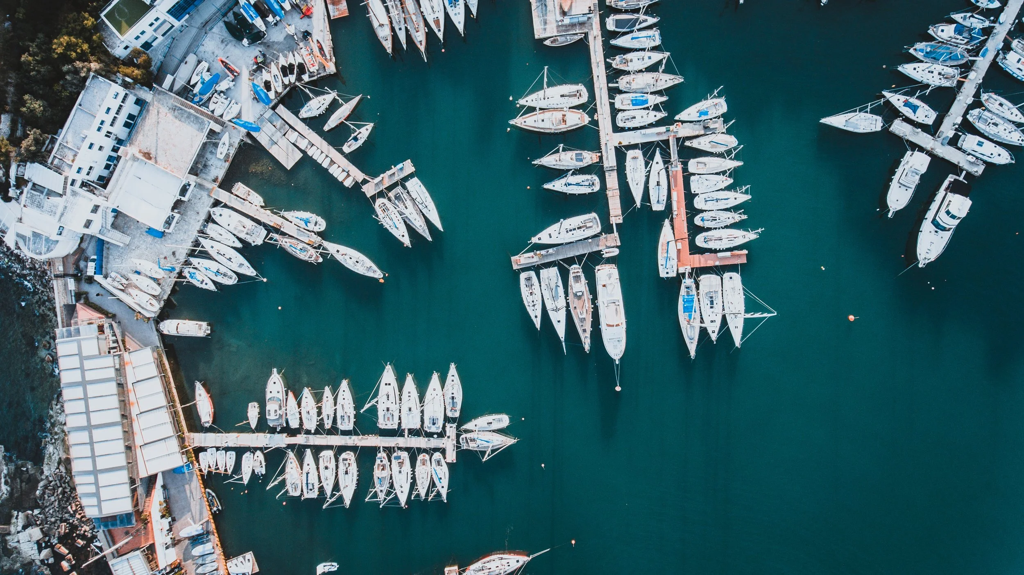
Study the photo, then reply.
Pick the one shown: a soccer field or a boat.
boat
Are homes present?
Yes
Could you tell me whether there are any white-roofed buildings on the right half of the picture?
No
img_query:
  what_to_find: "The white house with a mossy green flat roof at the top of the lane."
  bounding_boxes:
[99,0,185,61]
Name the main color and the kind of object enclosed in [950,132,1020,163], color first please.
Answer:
white boat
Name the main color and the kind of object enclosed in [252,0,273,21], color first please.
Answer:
black boat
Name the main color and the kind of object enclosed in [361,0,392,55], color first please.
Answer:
white boat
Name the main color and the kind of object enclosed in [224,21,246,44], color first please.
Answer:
black boat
